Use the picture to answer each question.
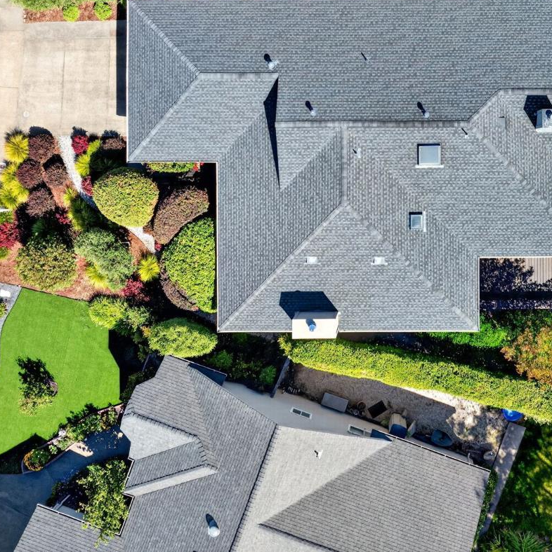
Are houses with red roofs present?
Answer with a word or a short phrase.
No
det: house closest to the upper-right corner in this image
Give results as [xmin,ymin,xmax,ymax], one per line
[126,0,552,341]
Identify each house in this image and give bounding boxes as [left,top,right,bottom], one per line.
[13,353,488,552]
[126,0,552,341]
